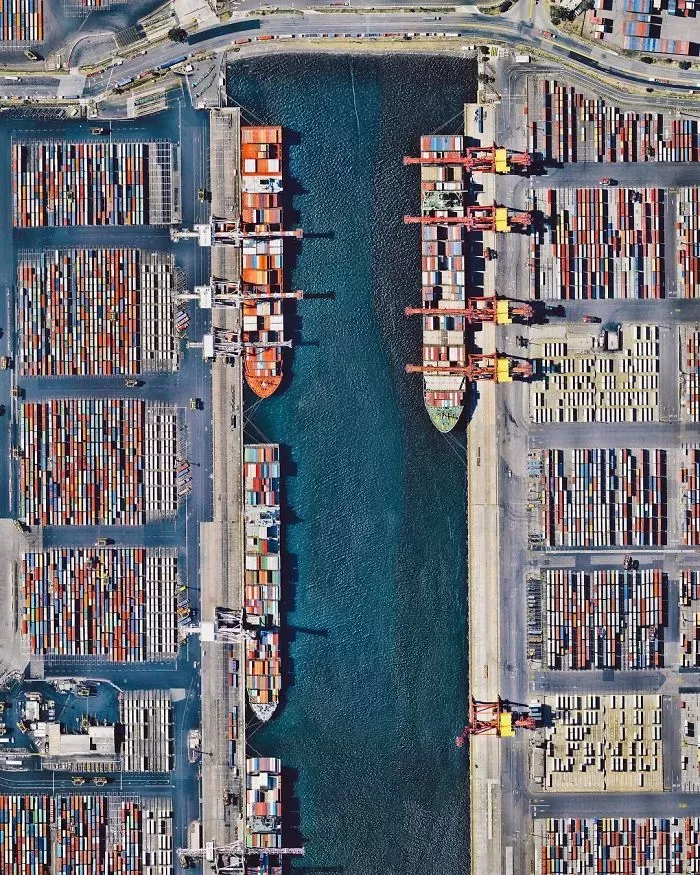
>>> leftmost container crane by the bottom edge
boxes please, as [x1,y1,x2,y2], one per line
[182,837,311,875]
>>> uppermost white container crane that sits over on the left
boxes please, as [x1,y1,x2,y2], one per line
[168,219,303,254]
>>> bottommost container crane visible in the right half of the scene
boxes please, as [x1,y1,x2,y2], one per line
[461,696,538,738]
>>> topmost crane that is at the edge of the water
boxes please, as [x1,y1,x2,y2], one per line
[401,146,534,180]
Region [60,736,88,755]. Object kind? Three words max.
building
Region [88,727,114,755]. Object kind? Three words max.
building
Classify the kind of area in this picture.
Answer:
port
